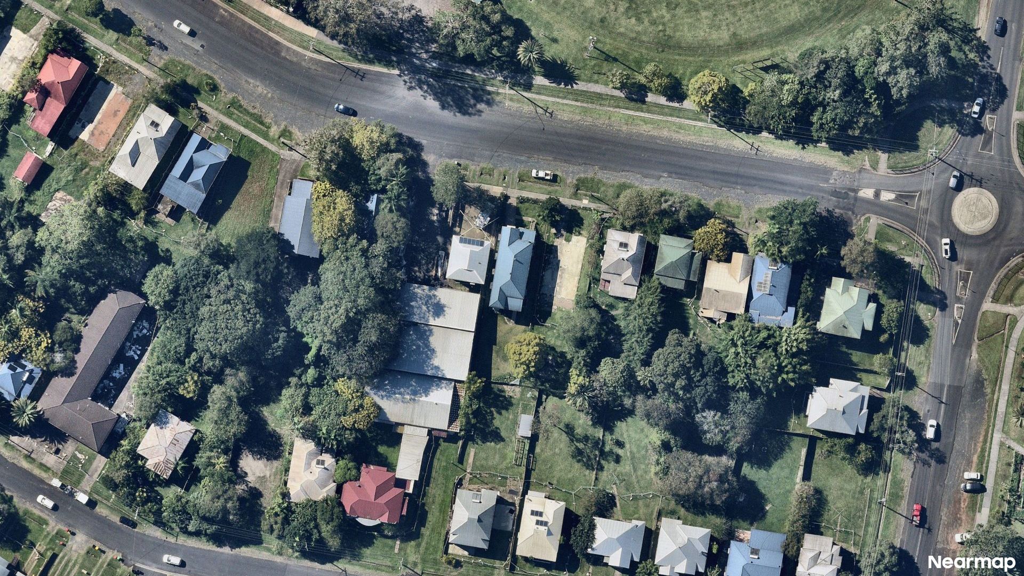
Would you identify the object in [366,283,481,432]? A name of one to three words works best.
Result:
building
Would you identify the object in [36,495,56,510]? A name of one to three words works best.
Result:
car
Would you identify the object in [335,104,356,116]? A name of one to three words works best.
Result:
vehicle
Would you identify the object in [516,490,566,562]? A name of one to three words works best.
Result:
house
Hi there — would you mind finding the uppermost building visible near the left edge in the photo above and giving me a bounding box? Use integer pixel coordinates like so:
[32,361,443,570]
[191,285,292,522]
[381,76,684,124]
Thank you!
[23,53,89,137]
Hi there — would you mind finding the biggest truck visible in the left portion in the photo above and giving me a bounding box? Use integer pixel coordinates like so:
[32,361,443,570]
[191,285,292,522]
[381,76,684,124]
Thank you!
[50,477,91,504]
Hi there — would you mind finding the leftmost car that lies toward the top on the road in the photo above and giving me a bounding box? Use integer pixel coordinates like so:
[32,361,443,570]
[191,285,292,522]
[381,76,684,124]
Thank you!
[173,20,192,34]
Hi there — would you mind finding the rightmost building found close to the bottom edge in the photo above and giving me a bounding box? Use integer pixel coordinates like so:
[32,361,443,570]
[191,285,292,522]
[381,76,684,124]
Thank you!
[797,533,842,576]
